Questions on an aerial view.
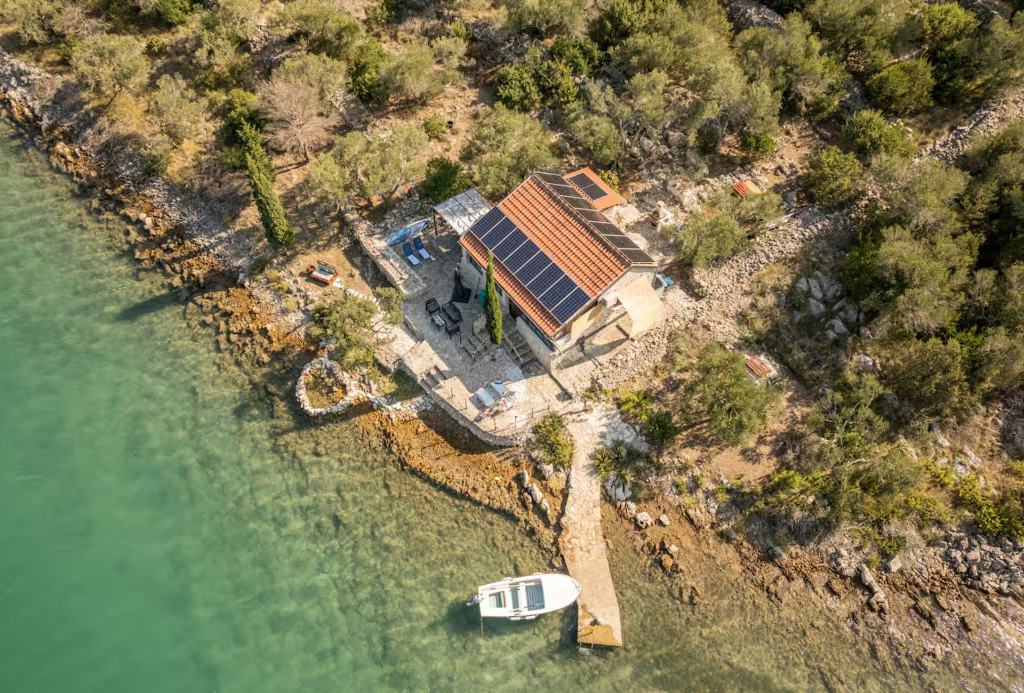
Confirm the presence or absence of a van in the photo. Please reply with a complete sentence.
No, the photo shows no van.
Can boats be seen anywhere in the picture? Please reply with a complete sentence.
Yes, the image includes a boat.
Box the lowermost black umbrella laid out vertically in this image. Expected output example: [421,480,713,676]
[451,260,473,303]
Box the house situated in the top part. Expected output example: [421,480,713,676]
[457,165,657,370]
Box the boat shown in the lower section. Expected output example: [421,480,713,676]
[478,568,582,626]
